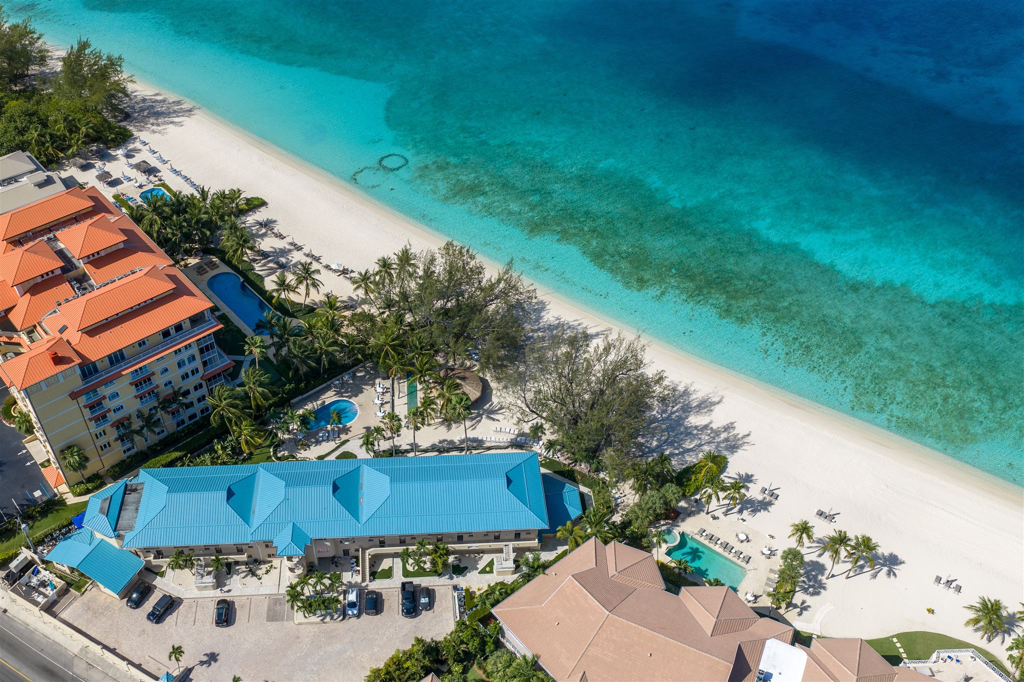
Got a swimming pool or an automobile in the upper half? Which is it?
swimming pool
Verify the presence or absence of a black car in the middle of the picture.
No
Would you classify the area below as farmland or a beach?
beach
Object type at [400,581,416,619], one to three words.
vehicle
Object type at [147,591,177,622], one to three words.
car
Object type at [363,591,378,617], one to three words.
car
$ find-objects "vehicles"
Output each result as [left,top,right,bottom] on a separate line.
[417,586,432,614]
[214,599,230,629]
[400,581,416,619]
[363,591,378,617]
[126,581,154,611]
[147,591,177,622]
[344,586,360,619]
